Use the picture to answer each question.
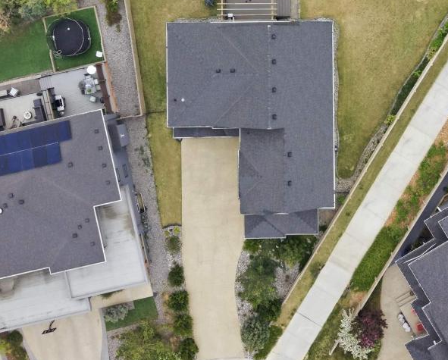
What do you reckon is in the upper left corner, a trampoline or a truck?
trampoline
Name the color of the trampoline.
black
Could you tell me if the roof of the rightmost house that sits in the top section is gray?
Yes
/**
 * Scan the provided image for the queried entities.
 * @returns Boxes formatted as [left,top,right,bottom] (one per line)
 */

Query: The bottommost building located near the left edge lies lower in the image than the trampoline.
[0,99,156,333]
